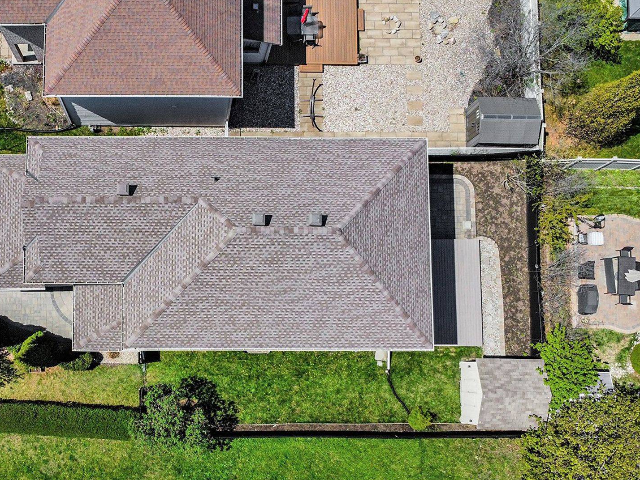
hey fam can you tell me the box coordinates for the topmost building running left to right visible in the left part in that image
[0,0,284,126]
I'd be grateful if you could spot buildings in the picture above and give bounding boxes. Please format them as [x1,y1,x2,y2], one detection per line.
[0,135,436,370]
[460,358,554,430]
[0,0,284,126]
[465,97,544,150]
